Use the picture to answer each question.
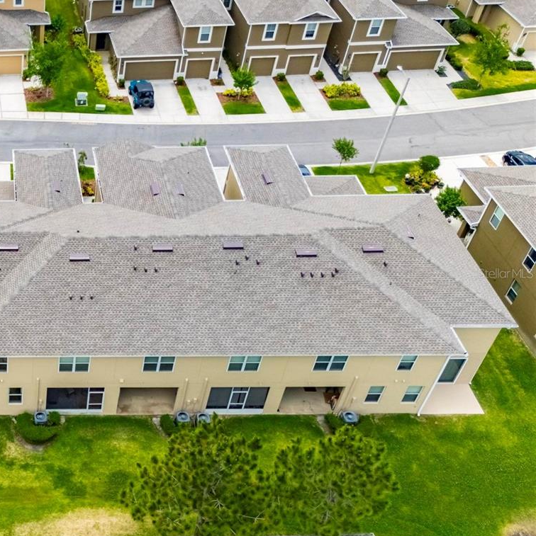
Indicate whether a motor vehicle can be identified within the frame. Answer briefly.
Yes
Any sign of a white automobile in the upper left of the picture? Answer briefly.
No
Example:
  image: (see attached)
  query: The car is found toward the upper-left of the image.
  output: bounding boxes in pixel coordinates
[127,81,157,107]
